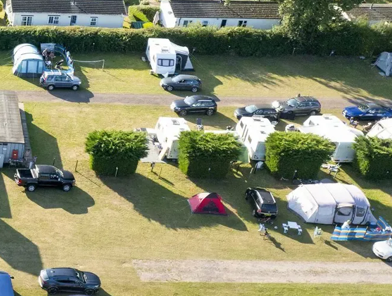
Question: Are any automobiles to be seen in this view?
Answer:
Yes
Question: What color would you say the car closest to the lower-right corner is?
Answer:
white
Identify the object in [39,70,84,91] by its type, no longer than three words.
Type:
car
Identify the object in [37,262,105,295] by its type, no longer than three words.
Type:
car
